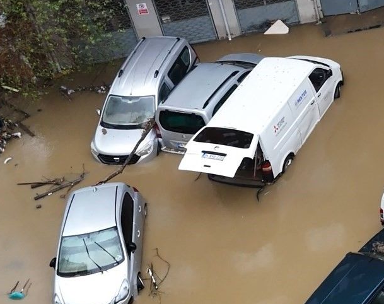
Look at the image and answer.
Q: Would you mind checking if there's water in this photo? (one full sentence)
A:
Yes, some water is visible.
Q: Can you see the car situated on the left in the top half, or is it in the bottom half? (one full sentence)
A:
The car situated on the left sits in the bottom half of the picture.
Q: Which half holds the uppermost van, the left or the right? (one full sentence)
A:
The uppermost van appears in the right half of the scene.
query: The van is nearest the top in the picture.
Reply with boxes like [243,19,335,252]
[183,58,345,185]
